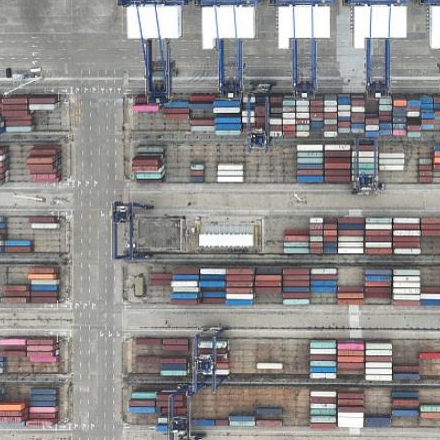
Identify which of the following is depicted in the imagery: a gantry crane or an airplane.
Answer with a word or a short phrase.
gantry crane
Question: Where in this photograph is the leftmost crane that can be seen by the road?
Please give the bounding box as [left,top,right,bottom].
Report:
[111,188,148,261]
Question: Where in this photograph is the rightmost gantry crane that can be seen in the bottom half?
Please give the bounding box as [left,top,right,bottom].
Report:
[193,315,226,394]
